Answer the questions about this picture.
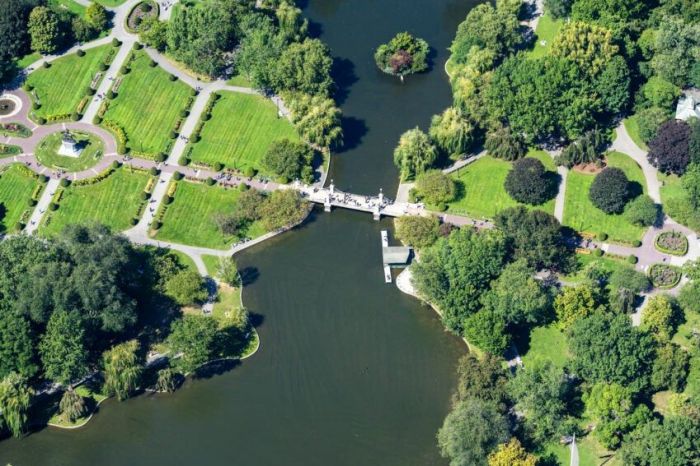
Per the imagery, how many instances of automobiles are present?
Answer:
0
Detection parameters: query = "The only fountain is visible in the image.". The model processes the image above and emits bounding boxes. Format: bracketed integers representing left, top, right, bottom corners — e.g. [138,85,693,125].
[0,94,22,117]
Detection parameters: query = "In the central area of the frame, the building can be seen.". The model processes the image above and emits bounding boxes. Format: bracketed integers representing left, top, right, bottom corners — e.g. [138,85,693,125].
[383,246,409,275]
